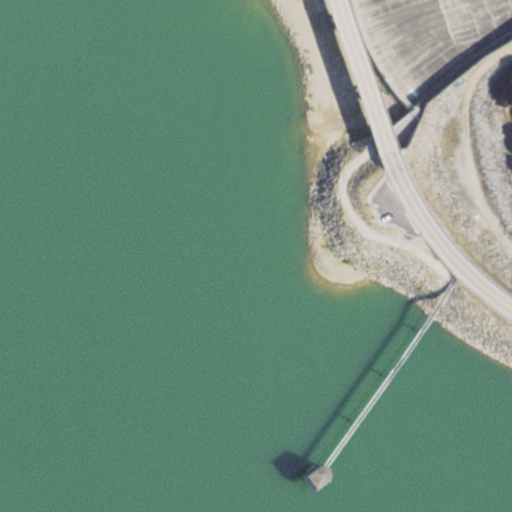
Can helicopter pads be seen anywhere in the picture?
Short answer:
No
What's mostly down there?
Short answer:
water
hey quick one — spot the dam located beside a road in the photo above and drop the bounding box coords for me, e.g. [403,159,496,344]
[317,0,512,170]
